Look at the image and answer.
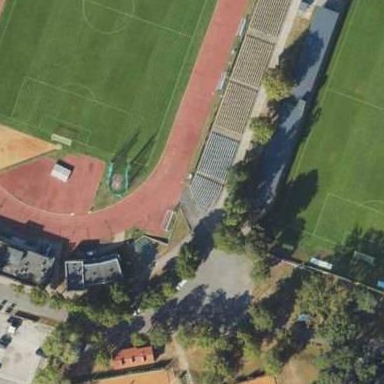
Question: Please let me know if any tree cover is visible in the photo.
Yes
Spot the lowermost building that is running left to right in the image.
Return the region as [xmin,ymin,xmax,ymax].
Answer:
[112,346,154,370]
